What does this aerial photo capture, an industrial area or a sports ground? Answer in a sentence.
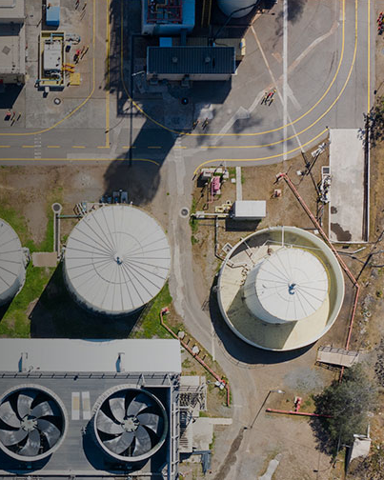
This image shows an industrial area.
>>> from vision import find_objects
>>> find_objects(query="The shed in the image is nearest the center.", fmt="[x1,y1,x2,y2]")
[233,200,266,219]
